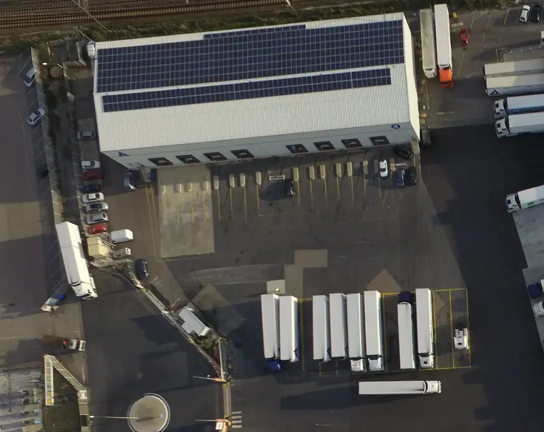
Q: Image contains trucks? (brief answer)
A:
Yes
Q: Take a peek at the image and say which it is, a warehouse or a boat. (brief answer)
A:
warehouse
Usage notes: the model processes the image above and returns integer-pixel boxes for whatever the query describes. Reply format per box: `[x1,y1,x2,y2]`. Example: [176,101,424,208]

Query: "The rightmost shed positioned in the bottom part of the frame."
[179,307,215,338]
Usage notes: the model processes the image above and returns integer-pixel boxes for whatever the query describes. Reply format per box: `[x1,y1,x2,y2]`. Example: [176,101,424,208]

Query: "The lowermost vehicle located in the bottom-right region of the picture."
[358,380,442,395]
